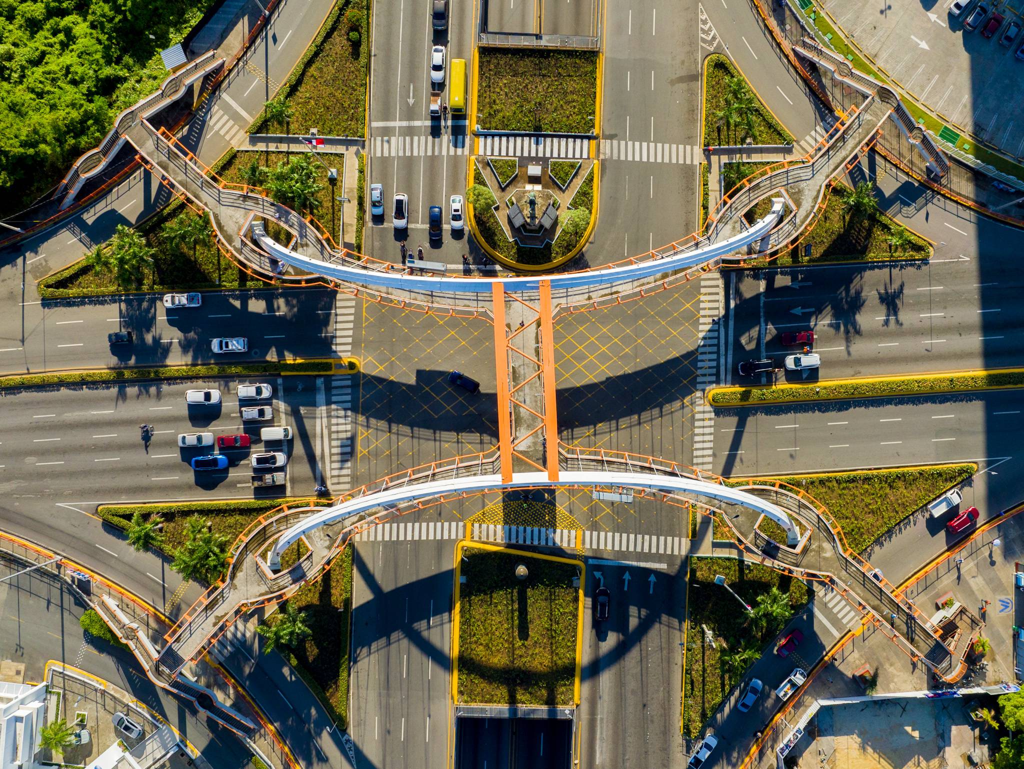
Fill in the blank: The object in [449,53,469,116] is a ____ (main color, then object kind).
yellow bus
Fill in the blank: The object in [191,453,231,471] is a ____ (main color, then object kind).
blue car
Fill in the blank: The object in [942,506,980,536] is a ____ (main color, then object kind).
red car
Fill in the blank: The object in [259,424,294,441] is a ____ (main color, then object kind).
white vehicle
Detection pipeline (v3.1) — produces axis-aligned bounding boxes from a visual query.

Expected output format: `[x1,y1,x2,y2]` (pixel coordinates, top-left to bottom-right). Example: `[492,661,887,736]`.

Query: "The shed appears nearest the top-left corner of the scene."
[160,44,192,74]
